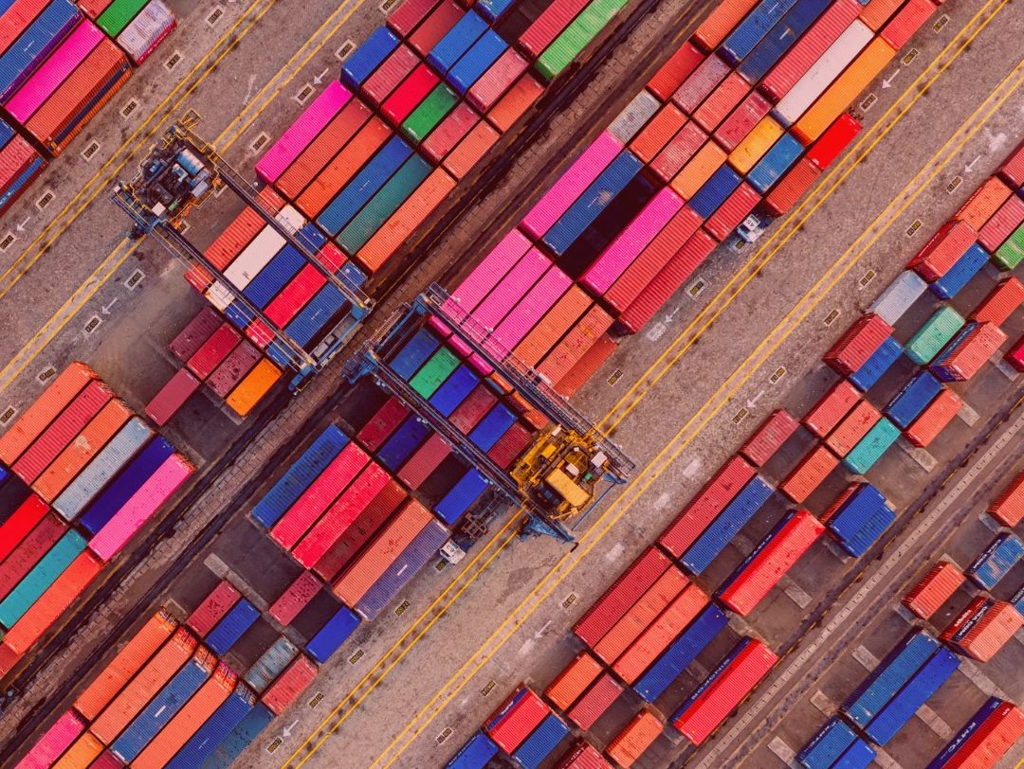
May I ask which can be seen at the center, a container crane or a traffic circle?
container crane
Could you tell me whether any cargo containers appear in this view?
Yes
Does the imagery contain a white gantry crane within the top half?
No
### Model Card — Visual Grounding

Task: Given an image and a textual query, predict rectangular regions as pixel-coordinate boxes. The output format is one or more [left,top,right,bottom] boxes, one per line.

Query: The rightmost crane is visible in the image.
[339,269,642,553]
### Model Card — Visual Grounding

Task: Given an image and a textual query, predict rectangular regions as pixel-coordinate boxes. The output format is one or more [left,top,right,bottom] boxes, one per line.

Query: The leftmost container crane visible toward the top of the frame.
[100,100,380,397]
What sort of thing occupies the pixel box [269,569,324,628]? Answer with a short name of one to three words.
shipping container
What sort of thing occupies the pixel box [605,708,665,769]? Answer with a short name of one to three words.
shipping container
